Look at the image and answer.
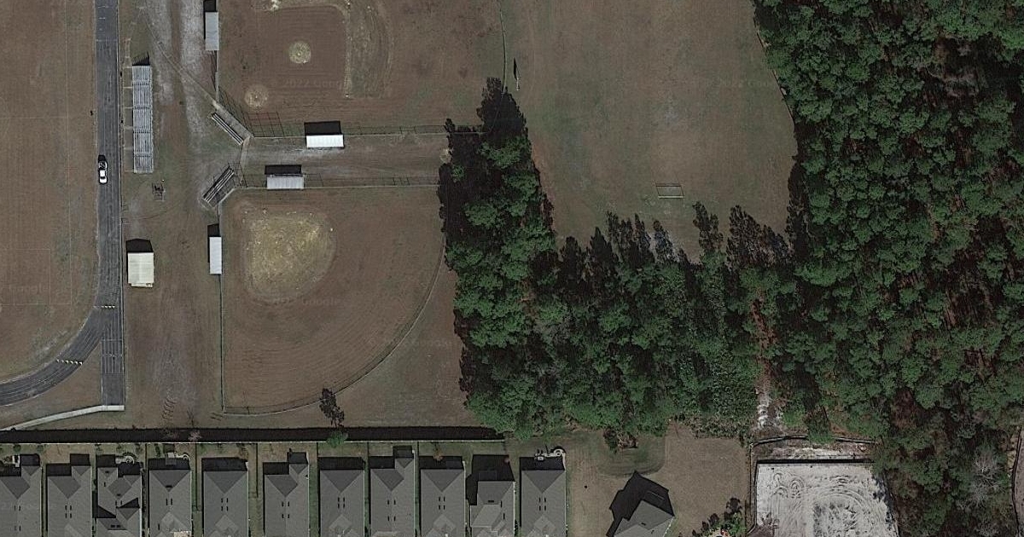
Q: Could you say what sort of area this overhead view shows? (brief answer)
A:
sports ground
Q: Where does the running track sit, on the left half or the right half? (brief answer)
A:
left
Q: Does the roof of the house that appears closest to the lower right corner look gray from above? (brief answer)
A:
Yes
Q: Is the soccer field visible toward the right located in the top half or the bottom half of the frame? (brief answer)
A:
top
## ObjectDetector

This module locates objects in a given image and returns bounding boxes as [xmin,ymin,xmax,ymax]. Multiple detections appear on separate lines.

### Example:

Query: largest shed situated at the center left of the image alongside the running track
[127,252,153,288]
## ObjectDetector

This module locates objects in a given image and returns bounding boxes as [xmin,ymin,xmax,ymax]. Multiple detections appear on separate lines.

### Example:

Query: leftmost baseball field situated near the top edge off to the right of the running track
[219,0,505,136]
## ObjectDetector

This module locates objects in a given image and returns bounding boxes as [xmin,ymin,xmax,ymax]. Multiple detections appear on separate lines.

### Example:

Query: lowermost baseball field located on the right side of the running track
[224,186,444,414]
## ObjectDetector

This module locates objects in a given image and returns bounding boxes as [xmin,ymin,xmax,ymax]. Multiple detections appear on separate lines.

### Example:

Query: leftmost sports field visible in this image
[0,0,97,381]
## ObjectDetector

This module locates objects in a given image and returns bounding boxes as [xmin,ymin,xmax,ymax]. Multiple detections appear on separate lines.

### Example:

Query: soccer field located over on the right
[509,0,793,245]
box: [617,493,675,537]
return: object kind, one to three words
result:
house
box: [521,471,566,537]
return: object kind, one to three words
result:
house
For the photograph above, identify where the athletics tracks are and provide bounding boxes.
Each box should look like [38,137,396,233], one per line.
[0,0,125,406]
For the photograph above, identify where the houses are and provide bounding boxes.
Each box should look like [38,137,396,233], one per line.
[421,470,465,537]
[320,470,364,537]
[470,482,515,537]
[617,493,675,537]
[521,471,566,537]
[96,468,141,537]
[263,464,308,537]
[0,467,41,537]
[46,467,92,537]
[371,458,415,537]
[202,471,248,537]
[149,470,191,537]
